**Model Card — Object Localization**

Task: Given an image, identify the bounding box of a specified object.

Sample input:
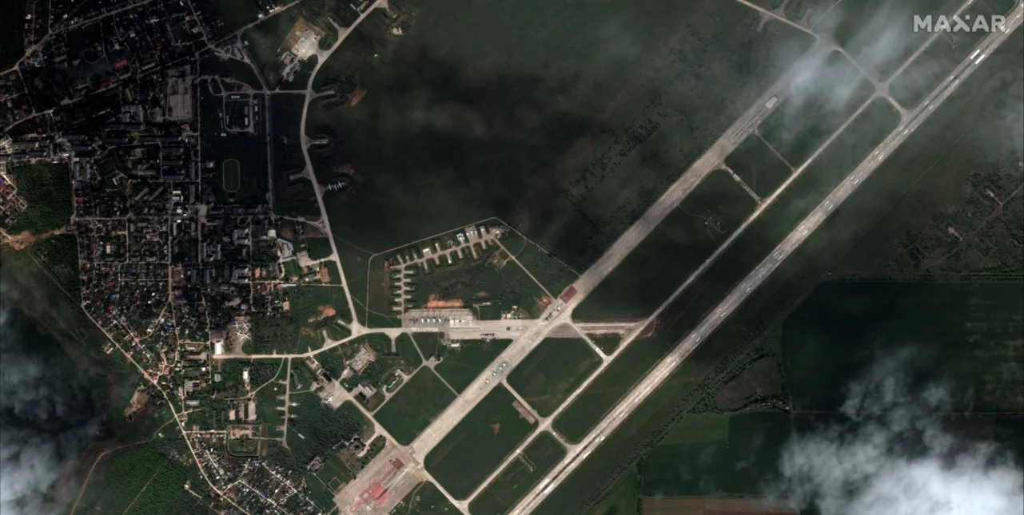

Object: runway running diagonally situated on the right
[508,9,1024,515]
